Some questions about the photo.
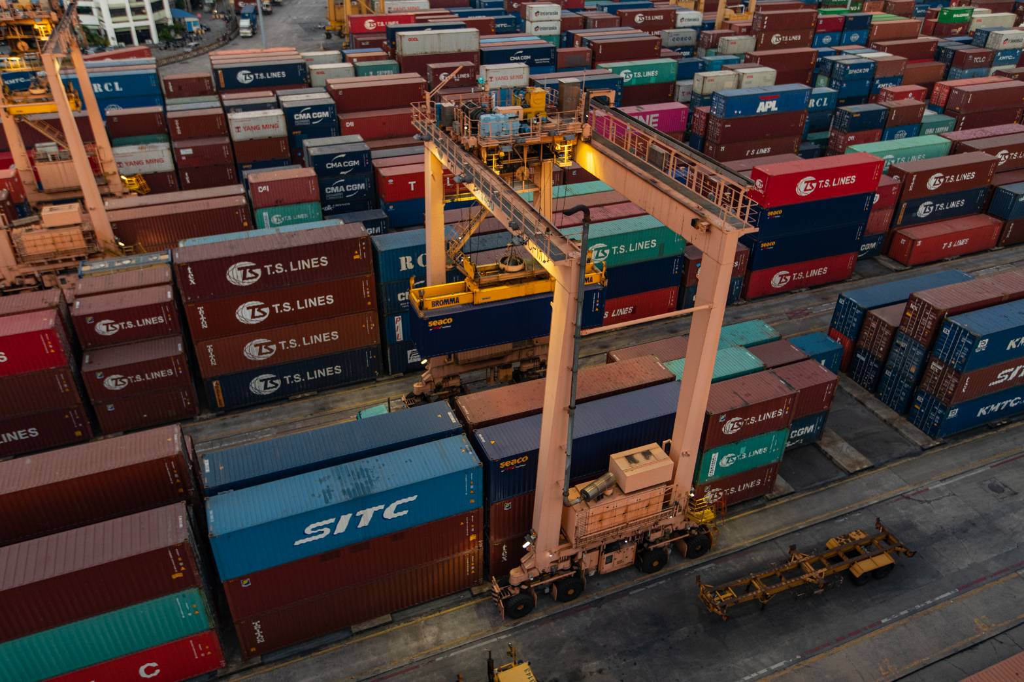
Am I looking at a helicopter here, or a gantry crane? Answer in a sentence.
Looking from above, you can make out a gantry crane.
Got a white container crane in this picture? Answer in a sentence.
No, I find no white container crane anywhere in the image.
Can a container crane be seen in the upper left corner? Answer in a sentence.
Yes, a container crane appears in the upper left corner.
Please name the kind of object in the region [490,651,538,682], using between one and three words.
vehicle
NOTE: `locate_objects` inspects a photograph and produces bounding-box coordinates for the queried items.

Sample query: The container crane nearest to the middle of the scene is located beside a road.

[394,46,777,625]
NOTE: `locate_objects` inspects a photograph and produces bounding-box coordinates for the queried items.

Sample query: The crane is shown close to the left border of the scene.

[0,0,148,283]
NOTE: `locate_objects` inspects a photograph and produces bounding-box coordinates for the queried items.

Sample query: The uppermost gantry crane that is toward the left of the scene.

[324,0,387,49]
